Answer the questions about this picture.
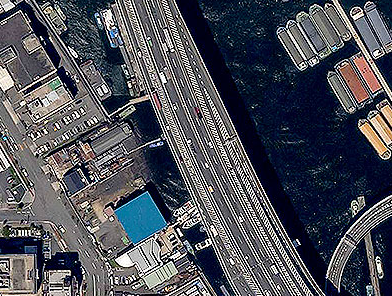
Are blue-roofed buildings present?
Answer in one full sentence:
Yes, there is a blue-roofed building in the image.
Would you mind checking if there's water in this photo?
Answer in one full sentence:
Yes, there's water in this view.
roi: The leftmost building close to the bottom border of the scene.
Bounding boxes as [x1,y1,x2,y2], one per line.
[0,255,38,293]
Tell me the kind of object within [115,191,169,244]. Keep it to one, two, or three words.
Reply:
building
